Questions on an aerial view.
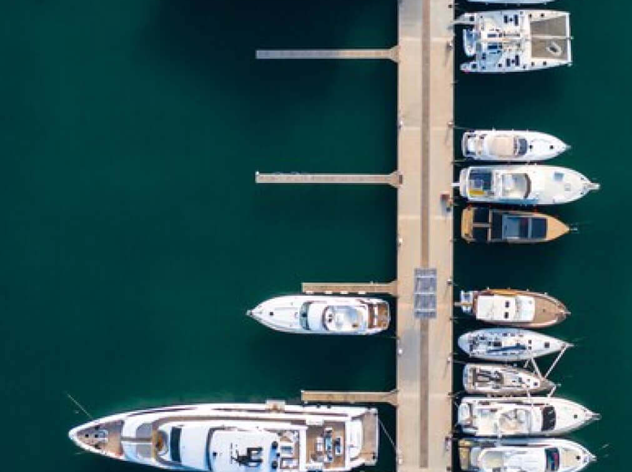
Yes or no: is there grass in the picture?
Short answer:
No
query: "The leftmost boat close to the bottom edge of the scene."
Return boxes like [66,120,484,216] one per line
[67,395,396,472]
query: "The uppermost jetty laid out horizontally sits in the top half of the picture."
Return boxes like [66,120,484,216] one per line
[256,46,397,62]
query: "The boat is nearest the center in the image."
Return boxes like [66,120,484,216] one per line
[244,293,397,336]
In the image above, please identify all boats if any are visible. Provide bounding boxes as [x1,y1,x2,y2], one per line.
[455,329,574,370]
[452,437,598,472]
[457,129,571,162]
[453,365,561,406]
[453,394,601,439]
[453,207,577,245]
[67,395,396,472]
[464,26,475,56]
[450,162,601,206]
[453,288,571,330]
[244,293,397,336]
[451,8,573,73]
